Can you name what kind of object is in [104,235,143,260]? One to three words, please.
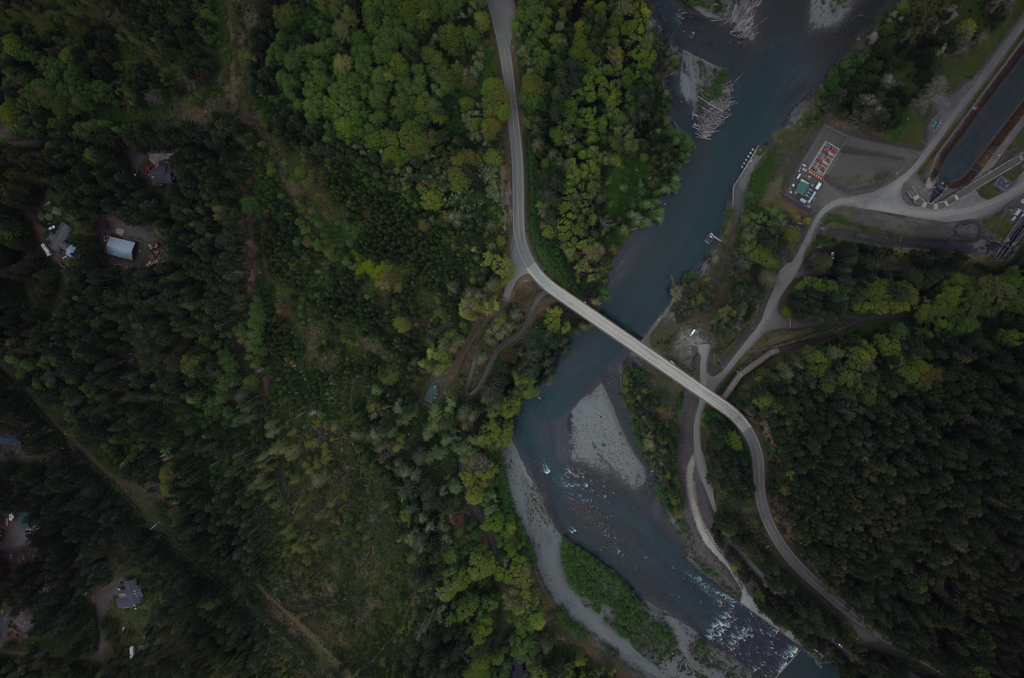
barn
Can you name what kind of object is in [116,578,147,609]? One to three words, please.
house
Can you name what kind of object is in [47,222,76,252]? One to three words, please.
house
